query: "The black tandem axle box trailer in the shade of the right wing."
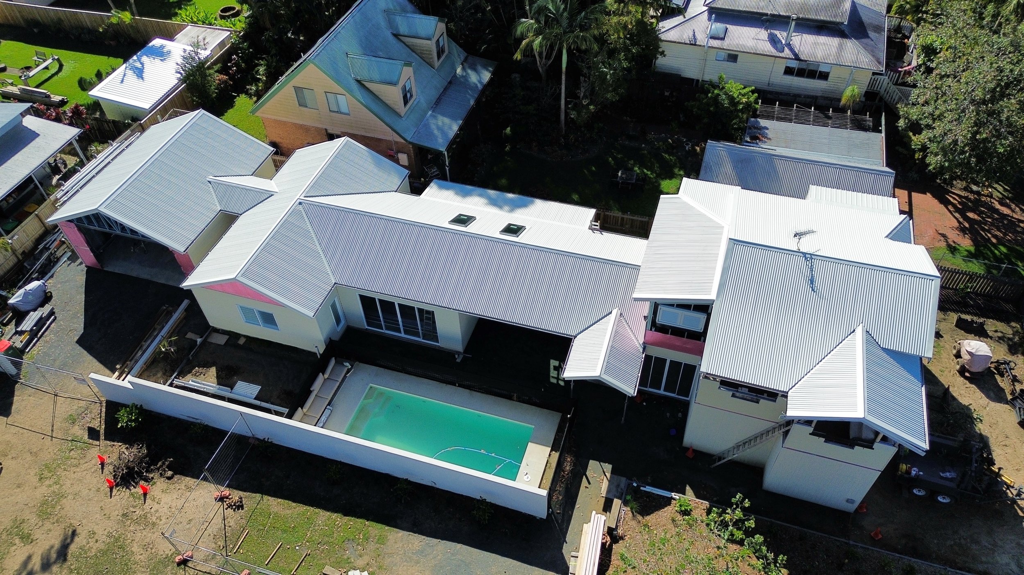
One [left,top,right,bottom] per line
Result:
[888,438,1024,508]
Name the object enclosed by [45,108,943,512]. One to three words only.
house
